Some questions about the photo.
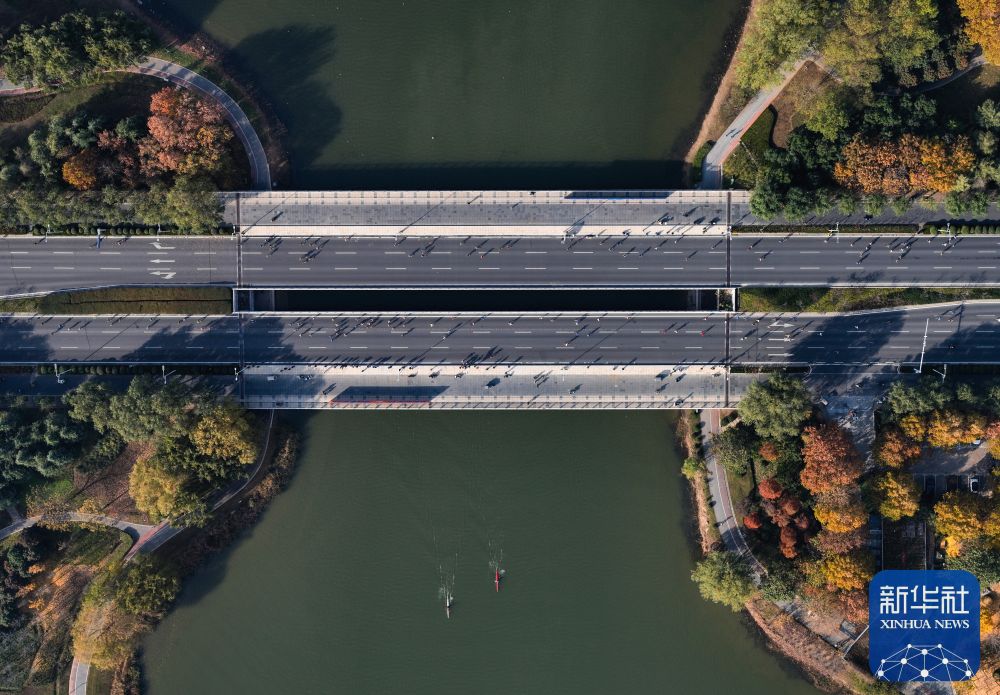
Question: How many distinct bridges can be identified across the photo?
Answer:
2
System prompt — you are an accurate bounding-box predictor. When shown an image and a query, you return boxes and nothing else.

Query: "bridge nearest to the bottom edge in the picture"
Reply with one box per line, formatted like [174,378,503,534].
[233,309,739,411]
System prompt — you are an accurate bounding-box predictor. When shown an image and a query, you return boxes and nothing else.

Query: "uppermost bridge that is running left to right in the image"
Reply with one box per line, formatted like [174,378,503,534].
[233,190,751,291]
